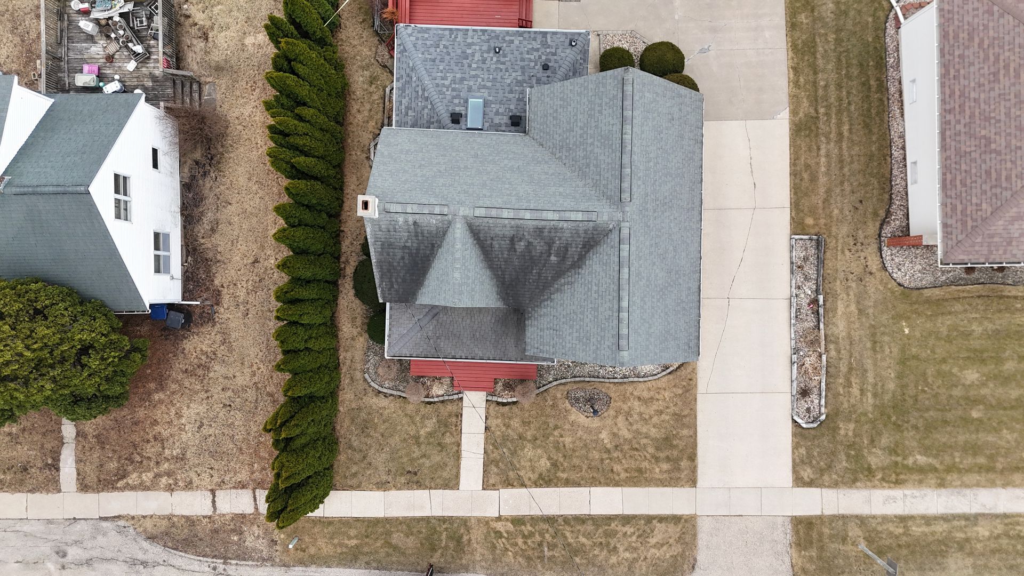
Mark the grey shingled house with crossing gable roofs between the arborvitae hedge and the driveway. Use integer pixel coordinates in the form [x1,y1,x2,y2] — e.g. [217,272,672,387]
[358,23,705,367]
